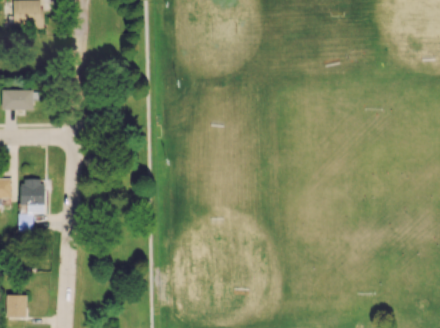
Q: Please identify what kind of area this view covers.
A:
sports ground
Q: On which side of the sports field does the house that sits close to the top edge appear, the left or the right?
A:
on its left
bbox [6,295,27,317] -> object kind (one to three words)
house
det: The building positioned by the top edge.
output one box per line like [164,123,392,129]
[12,0,44,29]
